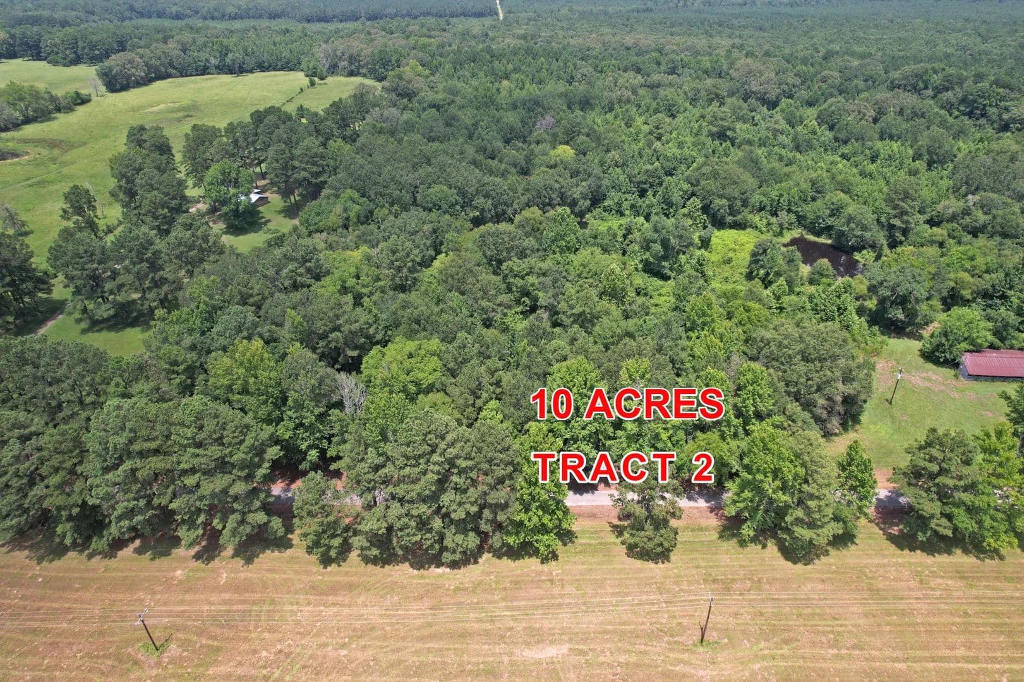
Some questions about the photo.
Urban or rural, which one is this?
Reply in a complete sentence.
It looks rural.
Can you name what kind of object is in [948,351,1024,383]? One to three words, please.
barn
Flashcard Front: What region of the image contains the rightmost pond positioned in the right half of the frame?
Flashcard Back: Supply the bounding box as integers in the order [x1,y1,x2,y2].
[782,235,865,279]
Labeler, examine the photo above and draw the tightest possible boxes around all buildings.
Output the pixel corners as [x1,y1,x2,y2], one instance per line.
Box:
[243,191,268,207]
[948,351,1024,383]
